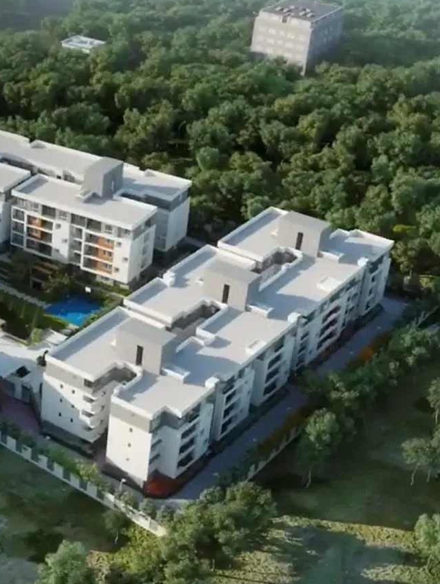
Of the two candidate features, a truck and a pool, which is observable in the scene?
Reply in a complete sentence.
I can see a pool in this picture.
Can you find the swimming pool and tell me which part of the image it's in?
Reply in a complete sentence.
The swimming pool sits in the left section of the image.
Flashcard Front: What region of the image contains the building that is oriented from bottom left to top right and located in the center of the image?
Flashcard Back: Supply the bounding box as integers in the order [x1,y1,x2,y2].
[47,205,393,486]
